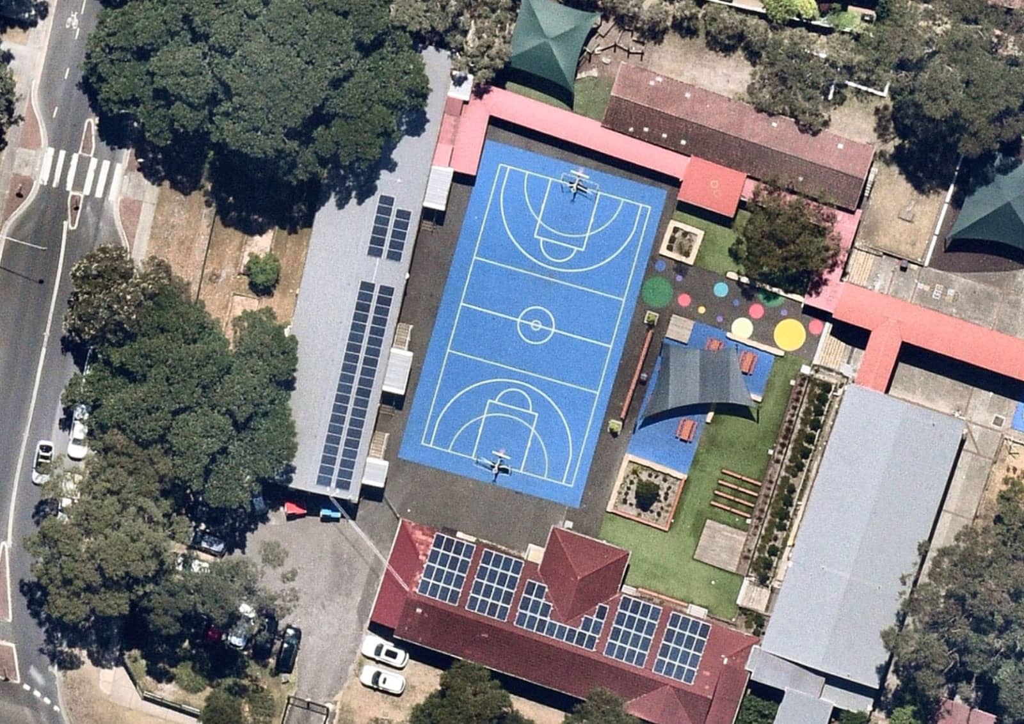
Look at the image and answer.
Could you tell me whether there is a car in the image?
Yes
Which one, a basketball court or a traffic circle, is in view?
basketball court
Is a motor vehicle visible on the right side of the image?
No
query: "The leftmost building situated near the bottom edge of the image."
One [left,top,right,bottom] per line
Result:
[369,519,760,724]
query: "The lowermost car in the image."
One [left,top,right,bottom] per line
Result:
[359,666,407,696]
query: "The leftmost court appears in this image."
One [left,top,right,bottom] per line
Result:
[398,140,667,508]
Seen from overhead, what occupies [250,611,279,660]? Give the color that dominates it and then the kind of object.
black car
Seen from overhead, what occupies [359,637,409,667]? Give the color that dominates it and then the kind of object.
white car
